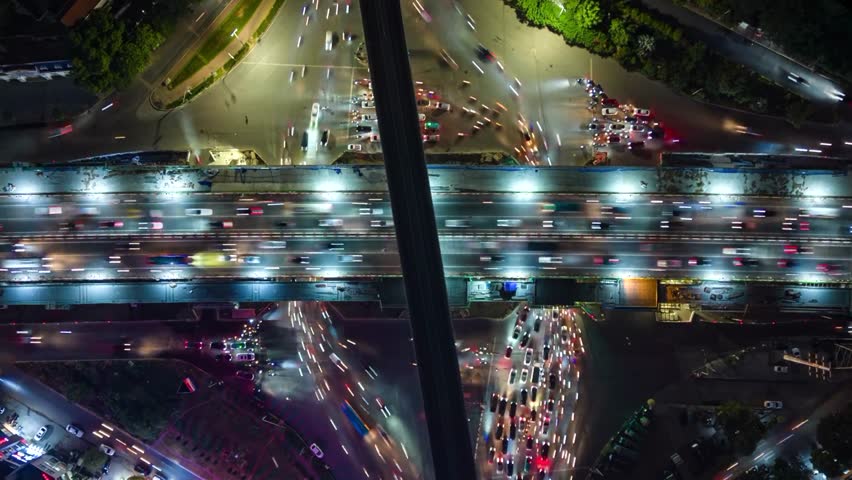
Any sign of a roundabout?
No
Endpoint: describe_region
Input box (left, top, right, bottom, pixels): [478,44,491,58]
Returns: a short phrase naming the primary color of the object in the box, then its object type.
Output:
black vehicle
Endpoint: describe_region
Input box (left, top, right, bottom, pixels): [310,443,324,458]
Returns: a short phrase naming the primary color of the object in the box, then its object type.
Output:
purple car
